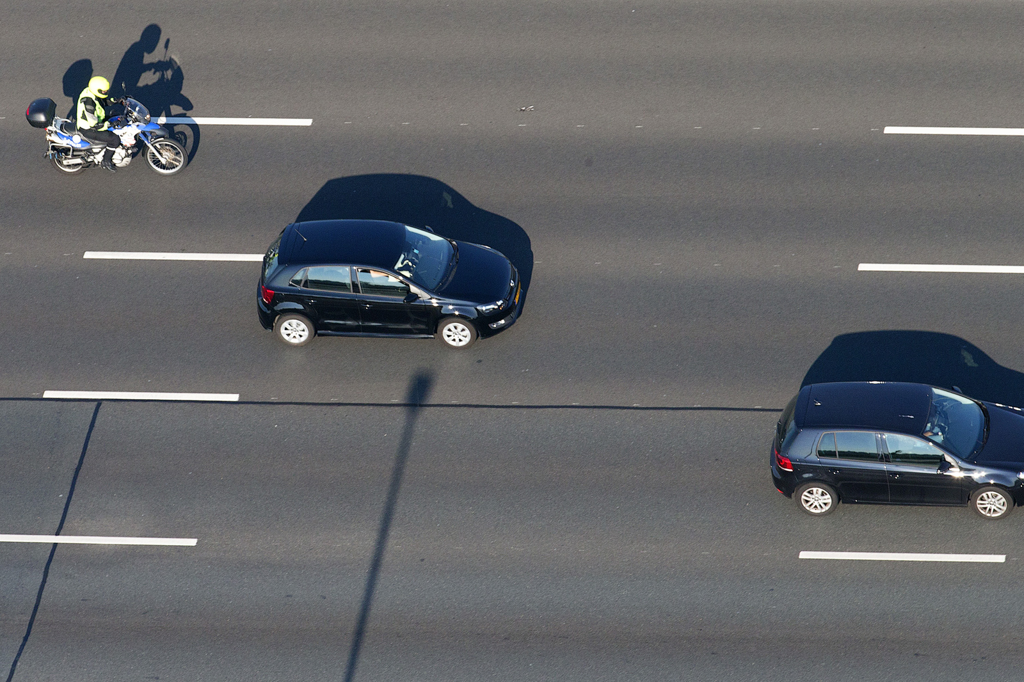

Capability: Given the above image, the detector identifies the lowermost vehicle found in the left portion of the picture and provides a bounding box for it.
[255,218,524,350]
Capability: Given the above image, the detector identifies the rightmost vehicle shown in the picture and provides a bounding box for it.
[771,379,1024,519]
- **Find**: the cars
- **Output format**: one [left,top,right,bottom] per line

[771,379,1024,519]
[255,218,524,350]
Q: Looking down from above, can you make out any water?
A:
No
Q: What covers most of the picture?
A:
paved ground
